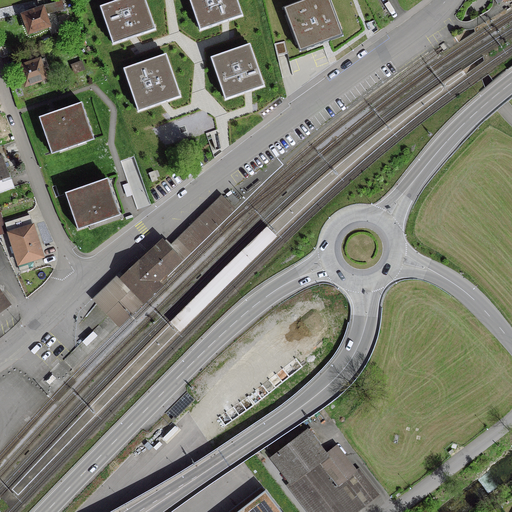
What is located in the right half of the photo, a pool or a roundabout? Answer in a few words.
roundabout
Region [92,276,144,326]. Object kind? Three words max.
shed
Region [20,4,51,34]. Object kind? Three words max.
house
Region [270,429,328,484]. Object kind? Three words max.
building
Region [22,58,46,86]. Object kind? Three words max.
house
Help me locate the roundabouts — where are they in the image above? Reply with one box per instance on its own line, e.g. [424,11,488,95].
[294,184,431,316]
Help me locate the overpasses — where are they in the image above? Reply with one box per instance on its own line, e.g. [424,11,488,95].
[114,312,381,512]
